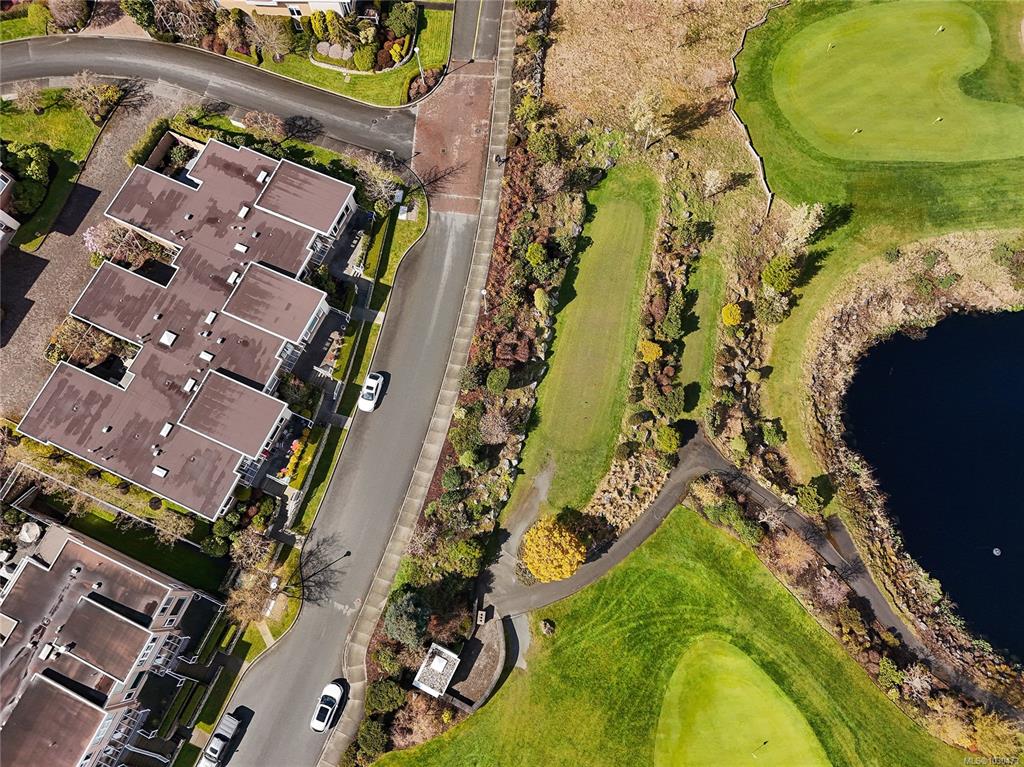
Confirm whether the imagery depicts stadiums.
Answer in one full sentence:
No, the photo shows no stadium.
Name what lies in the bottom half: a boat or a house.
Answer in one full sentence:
You can see a house in the bottom half.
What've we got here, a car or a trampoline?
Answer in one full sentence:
It is a car that can be seen here.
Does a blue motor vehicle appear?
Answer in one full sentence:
No, this view has no blue motor vehicle in it.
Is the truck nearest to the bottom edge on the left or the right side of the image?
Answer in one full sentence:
The truck nearest to the bottom edge sits on the left side.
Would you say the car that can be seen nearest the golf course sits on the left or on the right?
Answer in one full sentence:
You can find the car that can be seen nearest the golf course on the left side of the picture.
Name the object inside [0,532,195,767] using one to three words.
house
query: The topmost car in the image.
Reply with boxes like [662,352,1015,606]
[358,370,383,411]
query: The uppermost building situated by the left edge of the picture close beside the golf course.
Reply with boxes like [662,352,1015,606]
[15,139,361,523]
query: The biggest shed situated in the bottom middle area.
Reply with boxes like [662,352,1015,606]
[410,640,461,700]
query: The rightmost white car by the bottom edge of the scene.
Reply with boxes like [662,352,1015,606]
[308,681,346,736]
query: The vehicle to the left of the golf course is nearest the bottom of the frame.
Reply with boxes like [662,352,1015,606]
[192,712,239,767]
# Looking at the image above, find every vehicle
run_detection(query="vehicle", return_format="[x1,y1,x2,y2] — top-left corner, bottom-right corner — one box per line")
[358,370,383,411]
[308,681,346,736]
[192,712,239,767]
